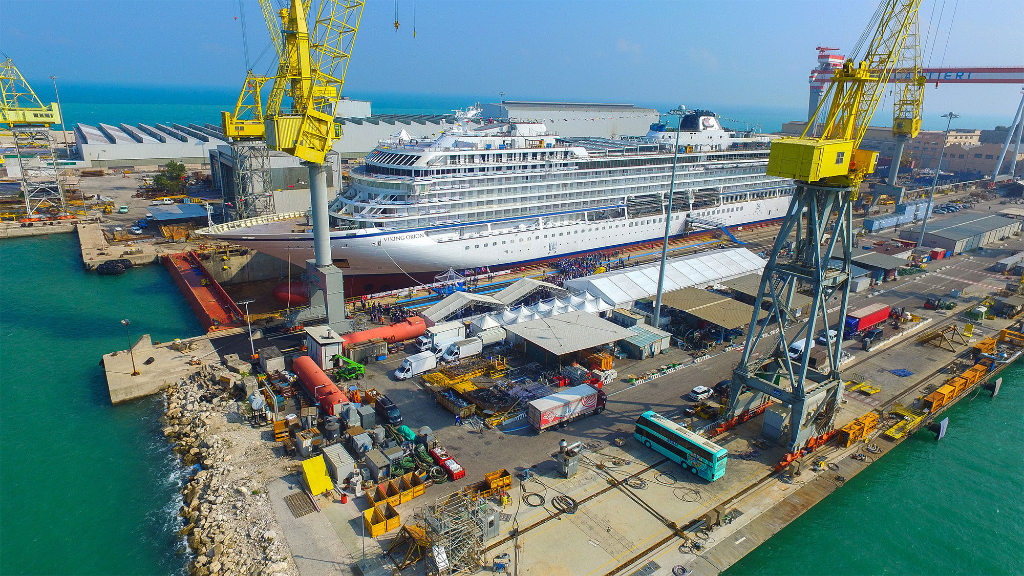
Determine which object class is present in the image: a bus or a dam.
bus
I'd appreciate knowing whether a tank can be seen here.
Yes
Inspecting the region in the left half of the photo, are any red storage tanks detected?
Yes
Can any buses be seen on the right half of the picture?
Yes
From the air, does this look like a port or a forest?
port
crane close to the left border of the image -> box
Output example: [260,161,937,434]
[0,56,79,222]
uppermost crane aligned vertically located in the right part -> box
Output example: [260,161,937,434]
[867,0,948,204]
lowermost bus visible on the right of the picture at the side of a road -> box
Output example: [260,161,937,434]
[632,410,730,481]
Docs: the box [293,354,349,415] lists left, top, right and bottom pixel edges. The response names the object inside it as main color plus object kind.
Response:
red storage tank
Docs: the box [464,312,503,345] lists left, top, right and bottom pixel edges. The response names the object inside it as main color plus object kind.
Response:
white tent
